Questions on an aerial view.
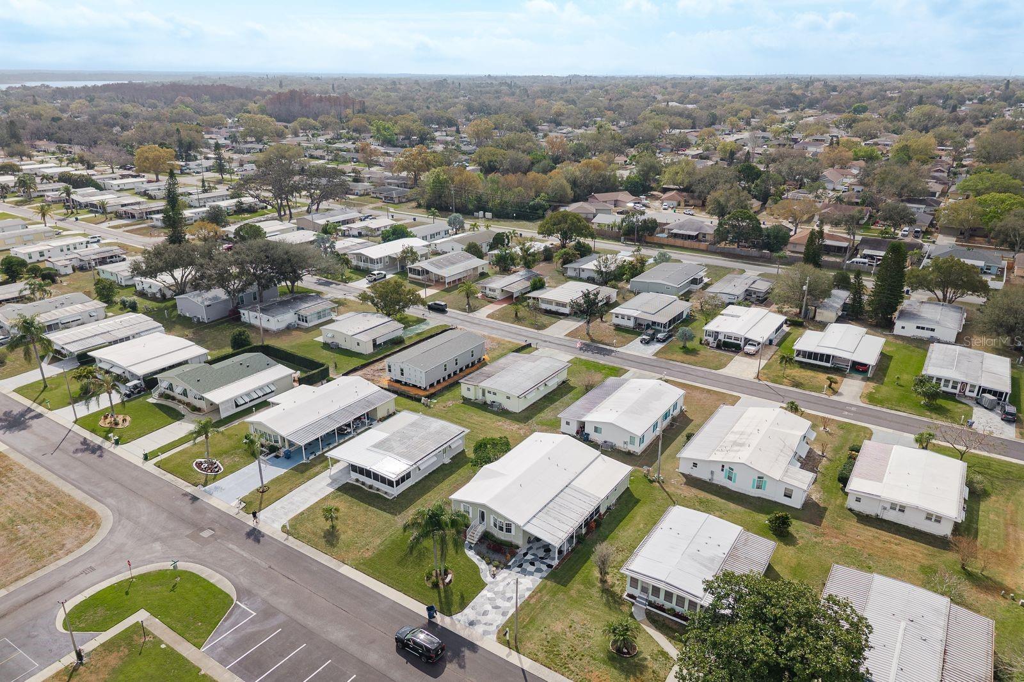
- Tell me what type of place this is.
residential area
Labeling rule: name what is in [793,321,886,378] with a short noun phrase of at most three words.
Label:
house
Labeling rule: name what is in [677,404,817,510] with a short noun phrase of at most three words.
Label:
house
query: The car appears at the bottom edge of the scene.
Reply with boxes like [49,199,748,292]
[389,621,452,666]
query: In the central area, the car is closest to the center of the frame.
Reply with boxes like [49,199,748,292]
[425,301,451,313]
